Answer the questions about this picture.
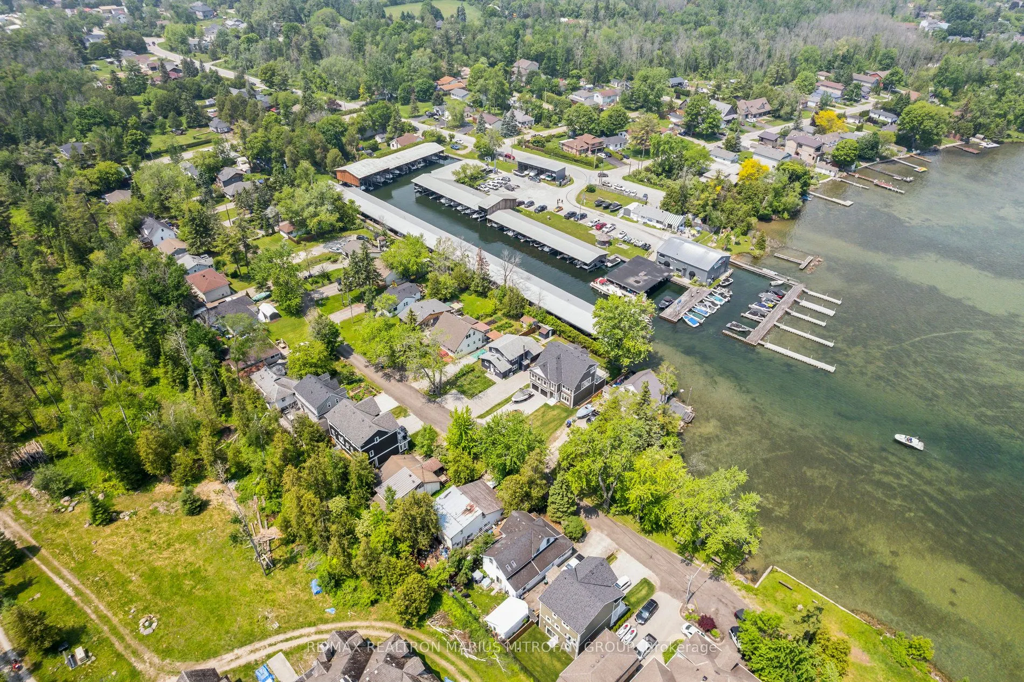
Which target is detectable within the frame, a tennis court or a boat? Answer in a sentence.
Of the two, only a boat appears.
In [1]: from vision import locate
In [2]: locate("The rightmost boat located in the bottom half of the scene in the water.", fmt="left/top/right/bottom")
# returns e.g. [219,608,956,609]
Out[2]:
[895,433,928,451]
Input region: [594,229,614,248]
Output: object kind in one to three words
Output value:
gazebo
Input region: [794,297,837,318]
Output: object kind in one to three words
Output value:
pier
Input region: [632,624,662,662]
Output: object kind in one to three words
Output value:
truck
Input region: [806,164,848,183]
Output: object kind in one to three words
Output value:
house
